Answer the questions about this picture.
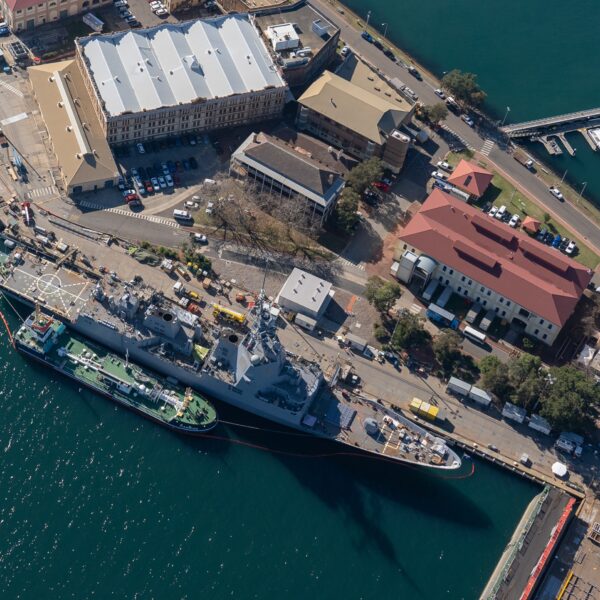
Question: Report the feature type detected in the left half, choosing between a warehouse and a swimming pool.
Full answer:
The feature located in the left half is a warehouse.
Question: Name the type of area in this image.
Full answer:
What you see here is a port.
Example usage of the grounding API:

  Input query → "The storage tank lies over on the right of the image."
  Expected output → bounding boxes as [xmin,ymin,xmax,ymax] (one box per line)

[400,121,430,154]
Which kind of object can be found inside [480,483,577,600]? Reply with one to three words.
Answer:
pier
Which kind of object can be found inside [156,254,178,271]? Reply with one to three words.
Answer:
vehicle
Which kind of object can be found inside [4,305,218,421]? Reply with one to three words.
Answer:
ship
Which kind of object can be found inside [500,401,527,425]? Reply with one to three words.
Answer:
shed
